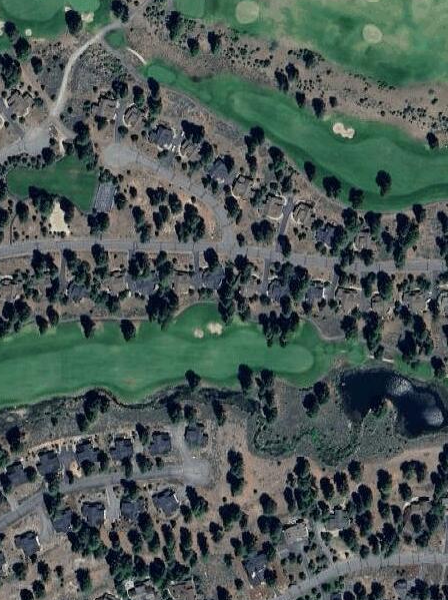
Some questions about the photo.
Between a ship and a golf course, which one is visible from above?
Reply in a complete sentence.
The one in the frame is a golf course.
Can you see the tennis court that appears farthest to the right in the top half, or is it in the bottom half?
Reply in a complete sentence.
The tennis court that appears farthest to the right sits in the top half of the picture.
